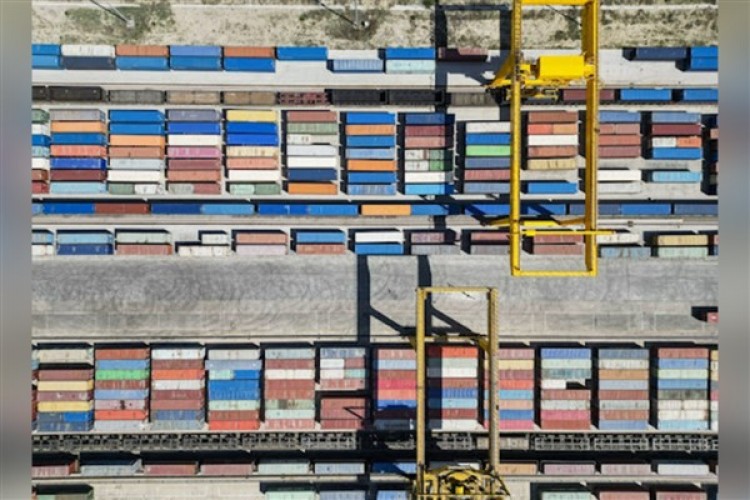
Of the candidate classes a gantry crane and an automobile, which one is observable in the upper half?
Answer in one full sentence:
What appears in the upper half is a gantry crane.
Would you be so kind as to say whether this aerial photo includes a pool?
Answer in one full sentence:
No, there isn't any pool down there.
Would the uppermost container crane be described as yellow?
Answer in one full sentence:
Yes, the uppermost container crane is yellow.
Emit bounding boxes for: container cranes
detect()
[484,0,612,275]
[401,286,509,500]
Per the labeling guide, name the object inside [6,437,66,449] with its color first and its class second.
gray rail car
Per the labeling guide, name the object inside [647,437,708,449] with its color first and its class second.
gray rail car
